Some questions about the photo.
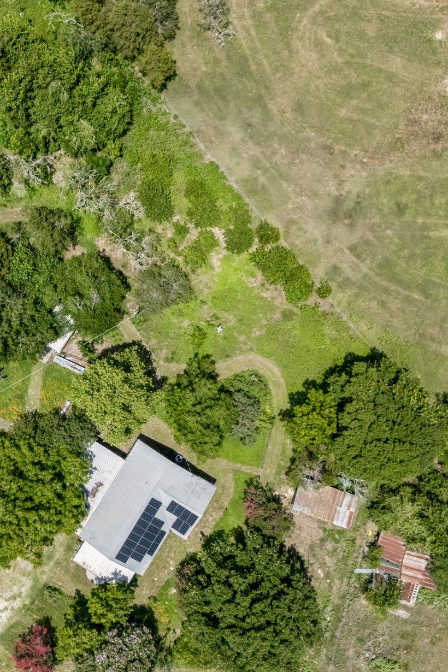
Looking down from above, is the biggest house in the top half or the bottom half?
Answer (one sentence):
The biggest house is in the bottom half of the image.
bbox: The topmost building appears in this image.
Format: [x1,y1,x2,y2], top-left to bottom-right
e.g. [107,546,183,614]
[45,308,79,364]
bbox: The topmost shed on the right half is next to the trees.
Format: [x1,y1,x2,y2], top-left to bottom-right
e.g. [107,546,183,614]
[291,484,356,529]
